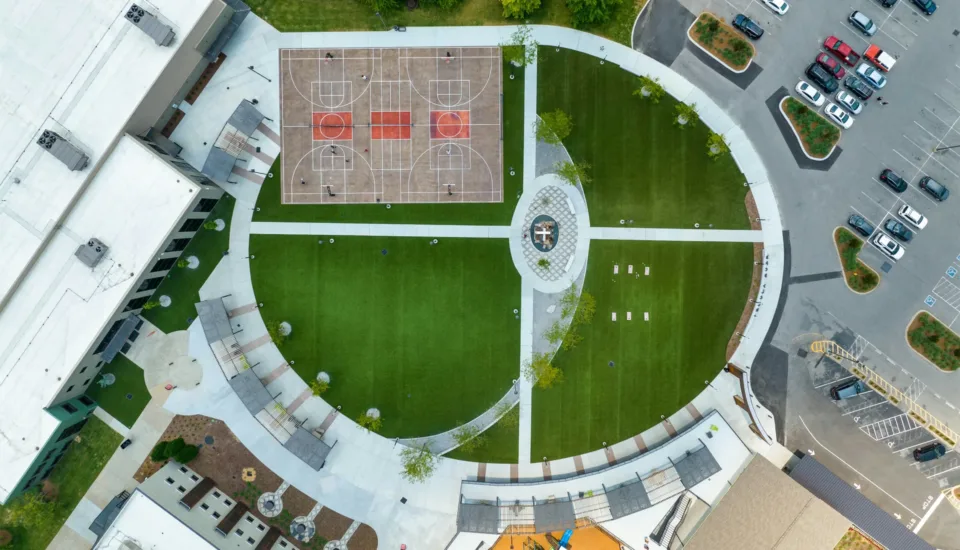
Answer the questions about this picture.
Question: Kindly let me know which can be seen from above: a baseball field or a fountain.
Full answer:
I can see a fountain in this picture.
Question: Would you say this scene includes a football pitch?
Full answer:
No, this view has no football pitch in it.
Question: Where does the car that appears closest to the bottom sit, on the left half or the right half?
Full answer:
The car that appears closest to the bottom is on the right side of the image.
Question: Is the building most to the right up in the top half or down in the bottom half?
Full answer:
The building most to the right is in the bottom half of the image.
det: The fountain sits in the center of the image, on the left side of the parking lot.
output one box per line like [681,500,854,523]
[531,215,560,253]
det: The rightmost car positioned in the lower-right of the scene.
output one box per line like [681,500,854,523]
[911,441,945,463]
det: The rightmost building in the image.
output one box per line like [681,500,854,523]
[674,450,850,550]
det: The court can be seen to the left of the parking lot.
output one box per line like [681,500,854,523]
[279,46,503,204]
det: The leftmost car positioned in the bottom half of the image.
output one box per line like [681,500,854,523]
[829,379,864,400]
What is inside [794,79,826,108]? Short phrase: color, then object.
white car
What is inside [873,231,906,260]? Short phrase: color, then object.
white car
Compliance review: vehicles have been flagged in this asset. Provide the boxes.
[917,174,950,203]
[911,441,945,463]
[731,12,765,42]
[829,379,864,400]
[822,101,855,130]
[804,63,838,93]
[815,51,846,79]
[905,0,937,17]
[841,73,876,102]
[862,43,900,72]
[846,8,877,37]
[794,79,826,108]
[855,62,887,90]
[832,88,863,116]
[821,35,862,67]
[873,231,906,260]
[896,202,928,230]
[845,211,878,240]
[878,167,908,194]
[882,216,914,244]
